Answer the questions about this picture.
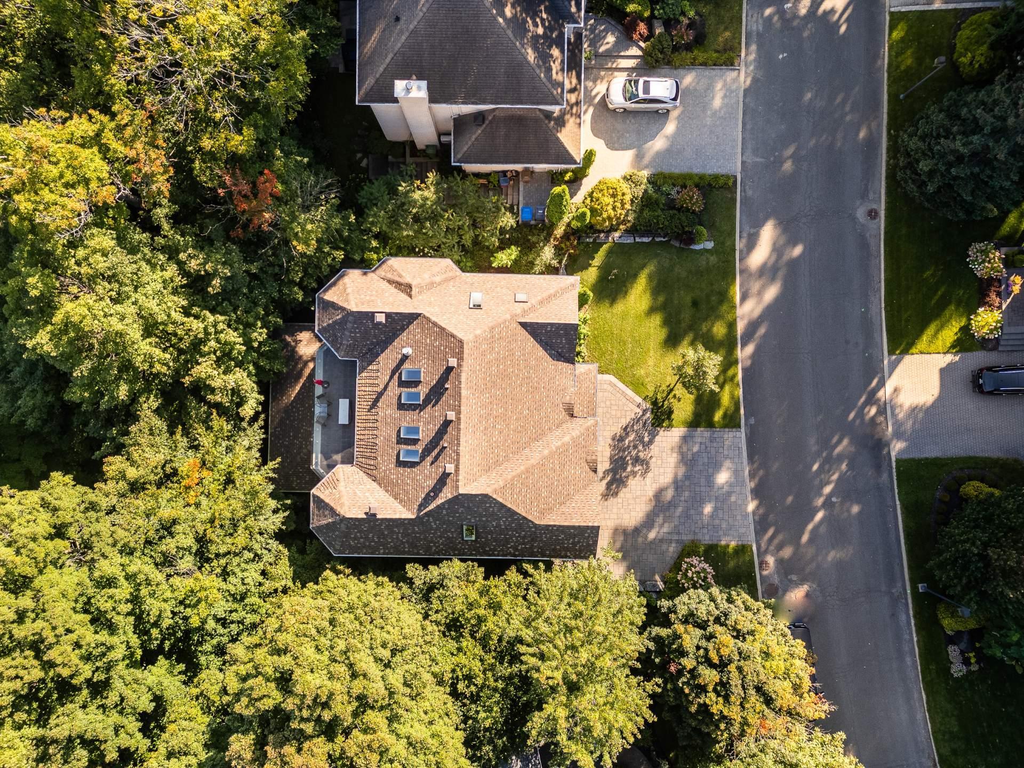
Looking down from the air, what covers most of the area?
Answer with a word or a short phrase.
trees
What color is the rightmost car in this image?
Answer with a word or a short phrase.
black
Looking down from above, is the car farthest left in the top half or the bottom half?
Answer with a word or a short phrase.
top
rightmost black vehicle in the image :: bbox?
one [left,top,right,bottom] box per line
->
[964,364,1024,395]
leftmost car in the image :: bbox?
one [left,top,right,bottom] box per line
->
[604,77,680,117]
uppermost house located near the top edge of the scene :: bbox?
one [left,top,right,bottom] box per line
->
[354,0,585,176]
